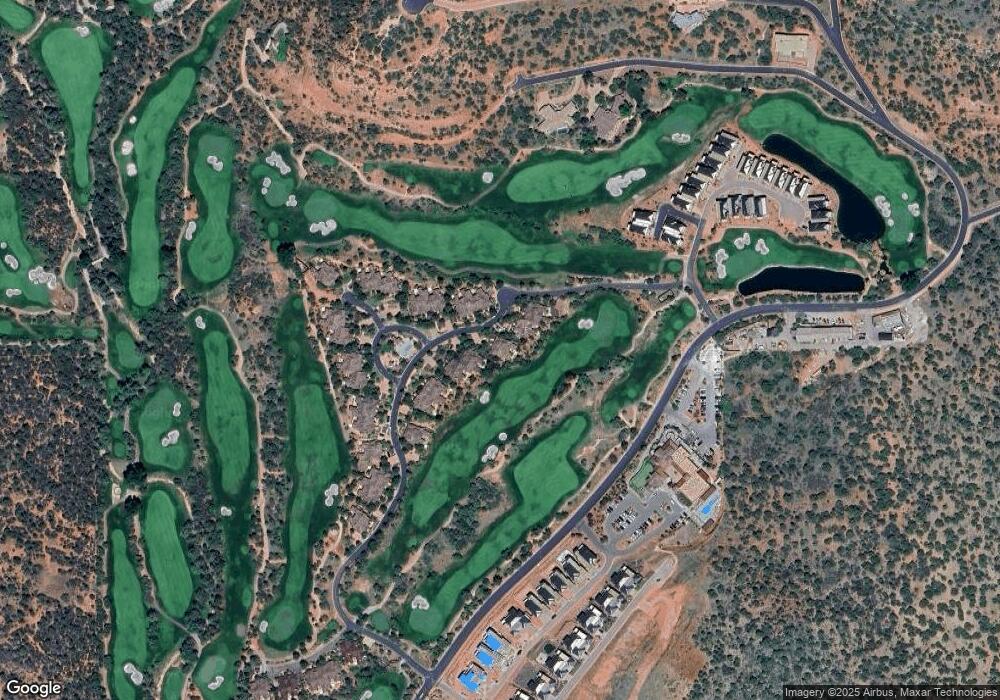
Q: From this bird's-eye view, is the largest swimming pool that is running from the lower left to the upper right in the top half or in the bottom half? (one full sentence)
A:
The largest swimming pool that is running from the lower left to the upper right is in the bottom half of the image.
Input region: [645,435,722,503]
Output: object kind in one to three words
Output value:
building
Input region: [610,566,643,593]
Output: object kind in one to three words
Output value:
house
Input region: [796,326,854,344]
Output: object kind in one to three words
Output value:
shed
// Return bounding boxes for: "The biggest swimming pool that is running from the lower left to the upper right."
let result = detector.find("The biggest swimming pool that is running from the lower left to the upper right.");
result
[696,490,722,523]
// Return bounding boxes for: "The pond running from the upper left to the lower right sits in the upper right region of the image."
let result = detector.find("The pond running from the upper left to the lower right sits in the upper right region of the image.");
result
[762,134,886,243]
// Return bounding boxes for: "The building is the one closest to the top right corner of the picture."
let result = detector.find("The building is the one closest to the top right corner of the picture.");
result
[774,32,809,64]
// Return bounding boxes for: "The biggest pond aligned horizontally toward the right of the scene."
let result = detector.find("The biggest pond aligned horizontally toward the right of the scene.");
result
[740,267,864,295]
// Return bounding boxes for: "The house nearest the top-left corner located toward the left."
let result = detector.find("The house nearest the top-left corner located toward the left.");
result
[310,259,336,289]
